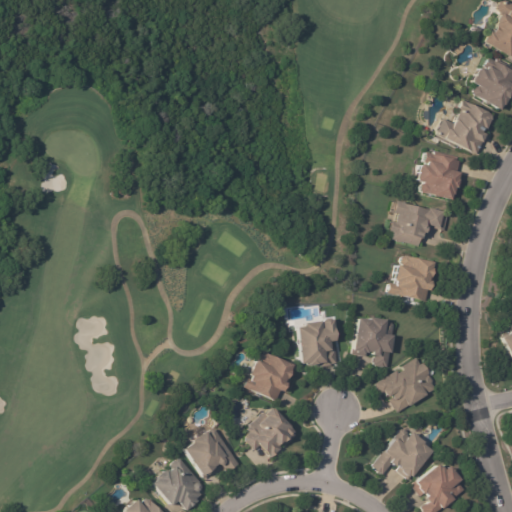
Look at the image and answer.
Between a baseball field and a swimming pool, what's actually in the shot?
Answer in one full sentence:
This aerial view contains a swimming pool.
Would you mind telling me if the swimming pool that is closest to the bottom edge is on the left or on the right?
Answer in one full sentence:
It is on the left.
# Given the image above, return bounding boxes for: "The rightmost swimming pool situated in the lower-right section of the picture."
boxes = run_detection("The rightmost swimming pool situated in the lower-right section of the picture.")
[423,426,442,444]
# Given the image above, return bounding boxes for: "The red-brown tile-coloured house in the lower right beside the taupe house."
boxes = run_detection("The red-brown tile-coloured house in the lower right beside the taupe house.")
[410,462,464,512]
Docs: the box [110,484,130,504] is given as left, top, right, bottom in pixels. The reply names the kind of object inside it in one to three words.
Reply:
swimming pool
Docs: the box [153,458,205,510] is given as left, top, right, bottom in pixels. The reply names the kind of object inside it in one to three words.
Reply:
house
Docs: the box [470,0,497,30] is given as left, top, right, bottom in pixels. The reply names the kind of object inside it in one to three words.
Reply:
swimming pool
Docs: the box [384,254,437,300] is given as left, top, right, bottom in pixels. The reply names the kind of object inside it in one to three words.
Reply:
house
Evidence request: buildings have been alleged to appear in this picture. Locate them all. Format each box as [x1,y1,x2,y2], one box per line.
[298,321,340,364]
[370,428,430,476]
[184,428,240,476]
[242,409,295,457]
[418,150,465,199]
[350,320,394,367]
[472,56,512,108]
[387,202,445,244]
[434,99,494,154]
[499,328,512,359]
[121,498,162,512]
[384,254,437,300]
[153,458,205,510]
[242,354,295,400]
[410,462,464,512]
[374,357,436,413]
